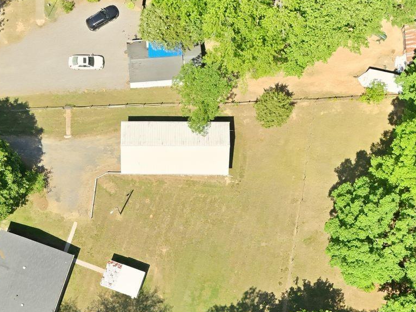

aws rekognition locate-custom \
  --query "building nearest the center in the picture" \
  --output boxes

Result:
[120,121,233,179]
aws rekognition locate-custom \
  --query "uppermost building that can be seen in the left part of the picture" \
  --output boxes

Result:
[128,41,200,87]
